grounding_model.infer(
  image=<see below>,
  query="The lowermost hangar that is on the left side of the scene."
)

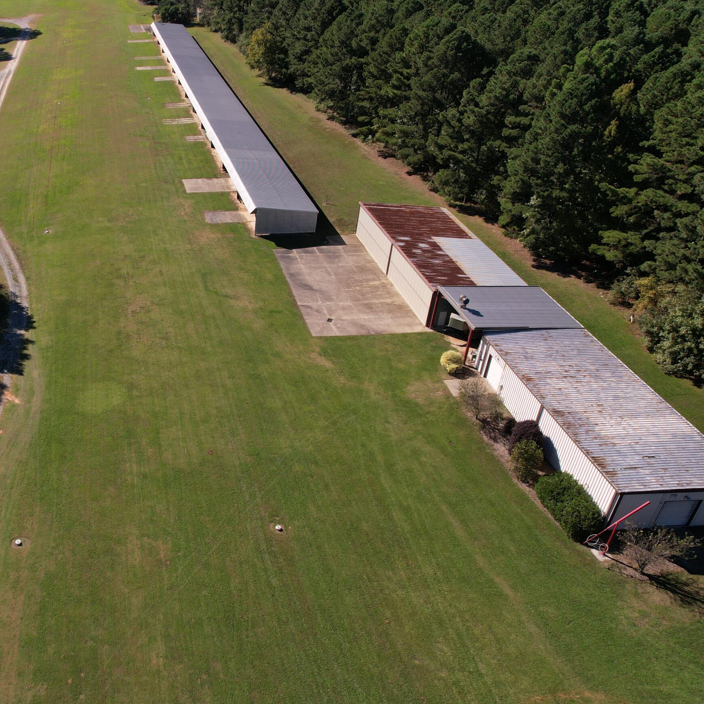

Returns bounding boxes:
[151,21,318,234]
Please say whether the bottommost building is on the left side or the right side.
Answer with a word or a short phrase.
right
